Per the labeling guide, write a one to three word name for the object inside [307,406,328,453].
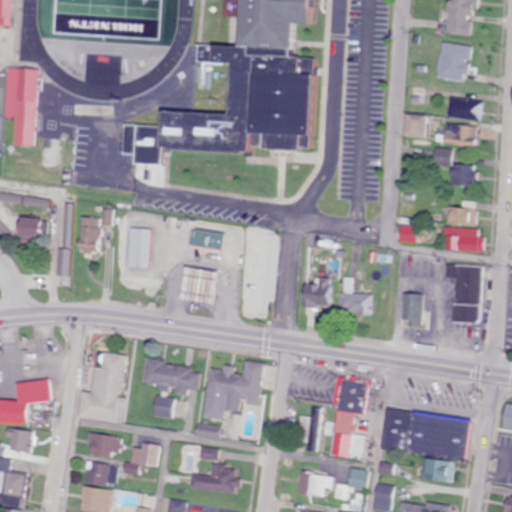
barn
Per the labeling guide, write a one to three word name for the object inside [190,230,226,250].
shed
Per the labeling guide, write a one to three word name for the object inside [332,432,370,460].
building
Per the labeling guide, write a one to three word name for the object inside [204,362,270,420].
house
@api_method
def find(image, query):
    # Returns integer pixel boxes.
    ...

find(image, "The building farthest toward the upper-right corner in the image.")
[445,0,478,36]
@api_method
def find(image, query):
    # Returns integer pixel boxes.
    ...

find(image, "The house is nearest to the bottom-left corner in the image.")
[0,472,30,509]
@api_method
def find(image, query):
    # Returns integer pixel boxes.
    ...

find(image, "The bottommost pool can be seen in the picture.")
[116,494,138,508]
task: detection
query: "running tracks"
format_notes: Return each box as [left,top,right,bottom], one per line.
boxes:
[21,0,194,102]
